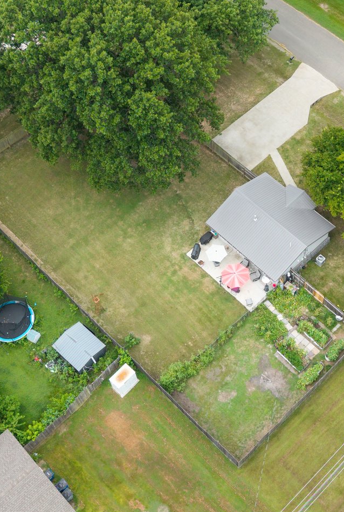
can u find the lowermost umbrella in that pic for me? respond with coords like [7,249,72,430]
[216,261,250,292]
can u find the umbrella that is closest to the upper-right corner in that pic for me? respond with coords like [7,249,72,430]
[206,243,228,265]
